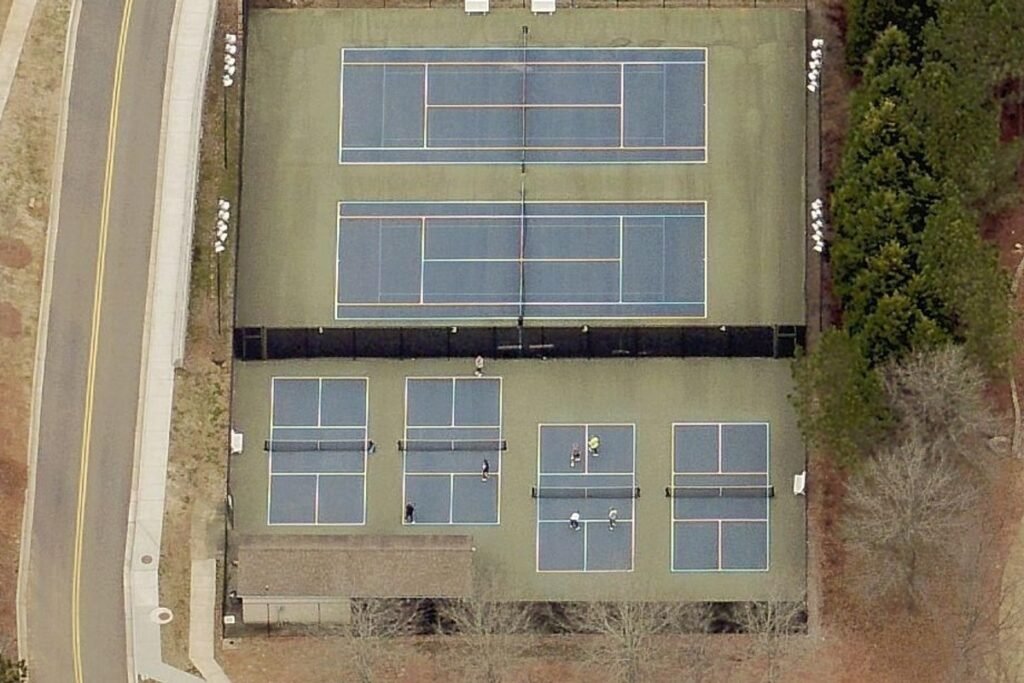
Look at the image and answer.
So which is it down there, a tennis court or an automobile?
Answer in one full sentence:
Looking from above, you can make out a tennis court.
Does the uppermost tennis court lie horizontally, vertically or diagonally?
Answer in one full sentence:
Seen from above, the uppermost tennis court lies horizontally.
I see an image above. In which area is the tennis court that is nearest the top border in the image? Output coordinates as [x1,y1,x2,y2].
[338,47,707,164]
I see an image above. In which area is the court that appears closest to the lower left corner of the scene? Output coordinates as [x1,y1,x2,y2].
[267,377,369,524]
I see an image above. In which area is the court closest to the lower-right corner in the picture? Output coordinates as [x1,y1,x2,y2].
[671,423,769,571]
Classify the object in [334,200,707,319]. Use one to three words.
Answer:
tennis court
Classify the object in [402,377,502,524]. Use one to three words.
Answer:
sports court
